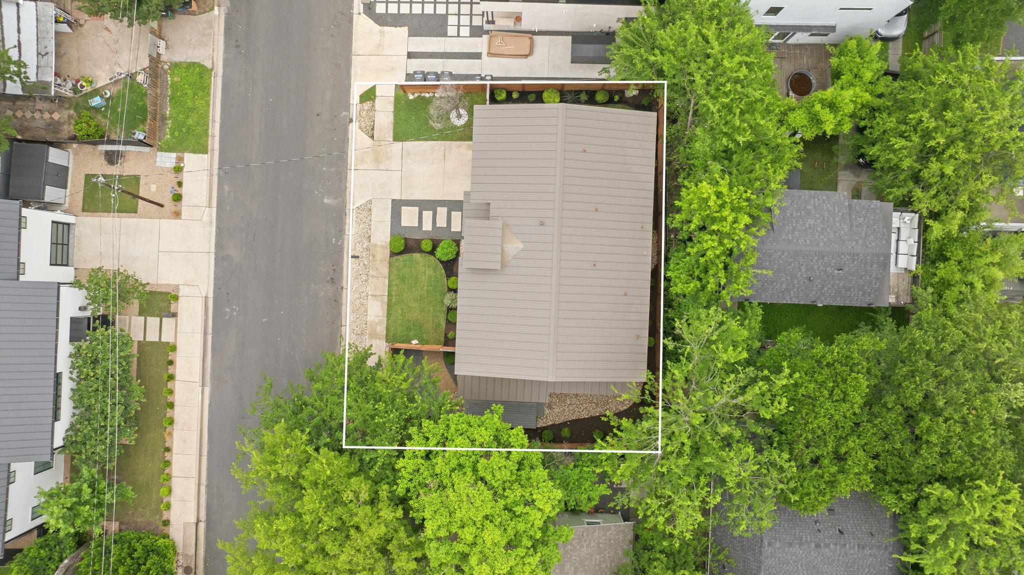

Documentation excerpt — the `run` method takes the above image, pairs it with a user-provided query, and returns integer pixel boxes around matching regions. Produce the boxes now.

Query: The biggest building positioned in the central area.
[454,103,657,405]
